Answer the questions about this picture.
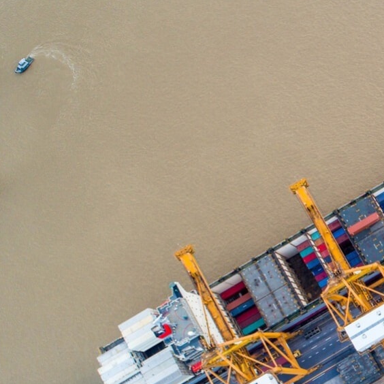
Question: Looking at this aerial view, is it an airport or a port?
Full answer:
This image shows a port.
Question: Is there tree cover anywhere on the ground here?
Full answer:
No, no tree cover is visible.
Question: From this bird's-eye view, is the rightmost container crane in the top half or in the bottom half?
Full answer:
Seen from above, the rightmost container crane lies in the bottom half of the view.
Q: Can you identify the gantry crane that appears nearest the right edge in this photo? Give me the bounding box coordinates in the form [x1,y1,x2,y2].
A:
[288,178,384,366]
